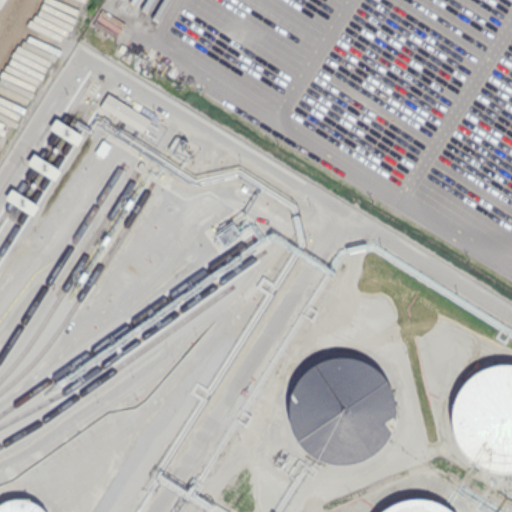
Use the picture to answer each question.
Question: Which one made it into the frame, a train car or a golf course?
train car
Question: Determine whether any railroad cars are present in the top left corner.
Yes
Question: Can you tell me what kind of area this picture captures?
industrial area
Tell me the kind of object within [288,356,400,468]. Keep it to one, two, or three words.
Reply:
storage tank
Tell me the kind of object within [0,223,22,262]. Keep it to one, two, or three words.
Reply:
rail car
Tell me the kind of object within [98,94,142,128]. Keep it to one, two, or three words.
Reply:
building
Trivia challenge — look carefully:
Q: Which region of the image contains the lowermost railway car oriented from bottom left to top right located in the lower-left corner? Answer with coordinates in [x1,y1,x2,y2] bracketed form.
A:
[2,420,42,446]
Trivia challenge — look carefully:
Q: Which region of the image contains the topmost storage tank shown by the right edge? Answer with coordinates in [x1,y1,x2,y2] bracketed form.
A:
[450,362,512,478]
